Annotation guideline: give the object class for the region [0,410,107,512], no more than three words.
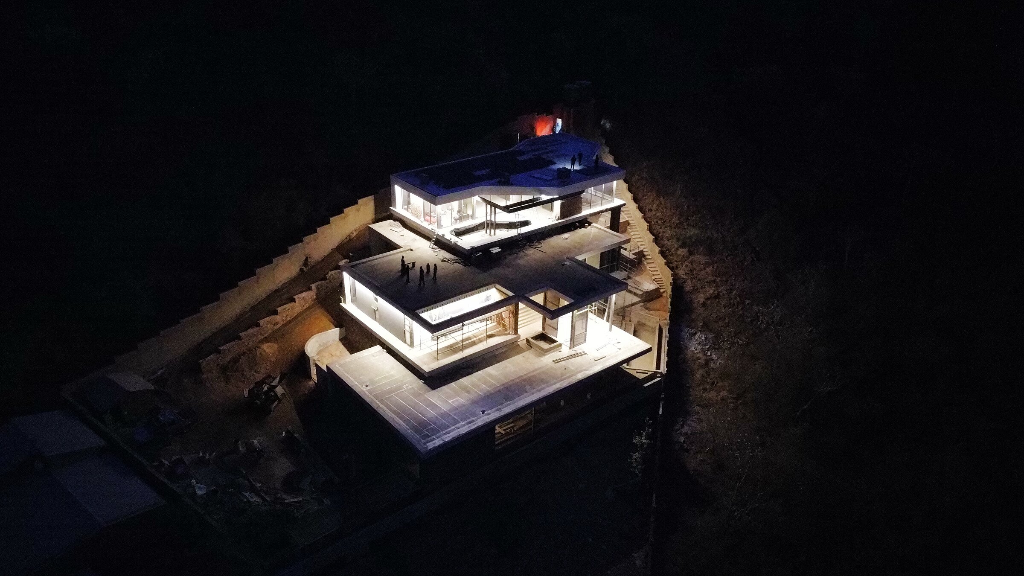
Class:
house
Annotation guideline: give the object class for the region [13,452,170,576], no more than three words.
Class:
house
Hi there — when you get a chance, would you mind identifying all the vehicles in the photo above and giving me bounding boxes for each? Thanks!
[238,369,306,412]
